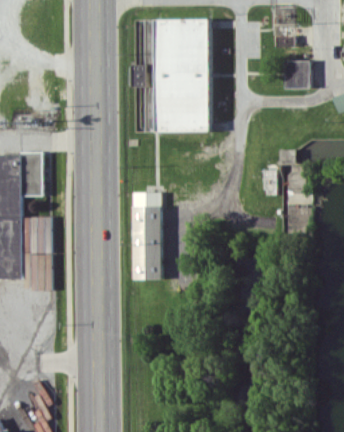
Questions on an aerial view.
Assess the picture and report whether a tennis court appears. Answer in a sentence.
No, I can see no tennis court in this picture.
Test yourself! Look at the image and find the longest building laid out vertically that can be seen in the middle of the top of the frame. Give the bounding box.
[156,18,210,134]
